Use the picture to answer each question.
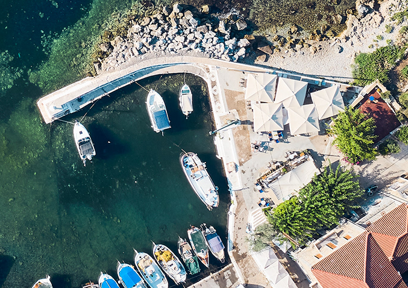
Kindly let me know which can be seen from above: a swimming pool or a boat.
boat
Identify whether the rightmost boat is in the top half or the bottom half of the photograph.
bottom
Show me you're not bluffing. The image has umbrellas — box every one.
[286,103,319,136]
[306,82,344,120]
[249,242,280,269]
[272,73,307,106]
[242,71,275,103]
[268,271,296,288]
[258,260,286,286]
[250,102,281,132]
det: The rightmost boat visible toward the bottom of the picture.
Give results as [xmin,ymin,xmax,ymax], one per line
[205,225,227,267]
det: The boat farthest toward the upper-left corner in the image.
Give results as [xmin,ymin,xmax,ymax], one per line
[58,113,94,163]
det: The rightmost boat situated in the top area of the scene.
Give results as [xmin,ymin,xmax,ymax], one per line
[177,86,193,117]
